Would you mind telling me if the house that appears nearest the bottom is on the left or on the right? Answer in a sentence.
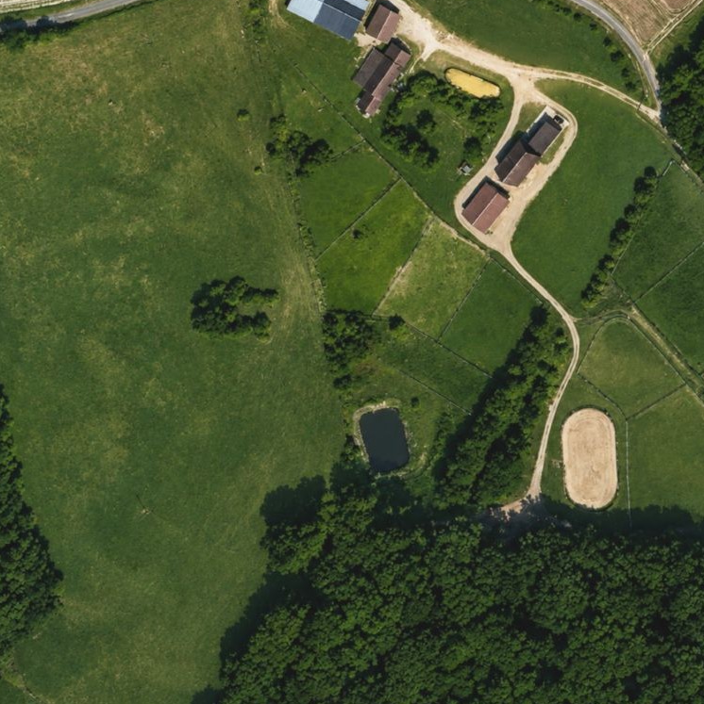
You can find the house that appears nearest the bottom on the right side of the picture.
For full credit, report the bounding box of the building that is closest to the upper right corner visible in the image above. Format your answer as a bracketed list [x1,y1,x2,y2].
[494,122,561,186]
